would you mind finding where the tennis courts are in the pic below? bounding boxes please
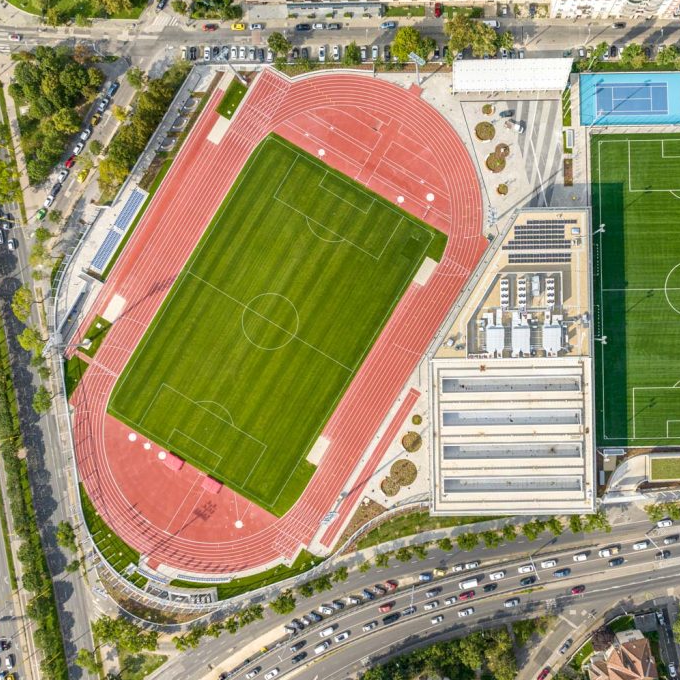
[580,71,680,125]
[597,82,668,114]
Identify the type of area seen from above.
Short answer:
sports ground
